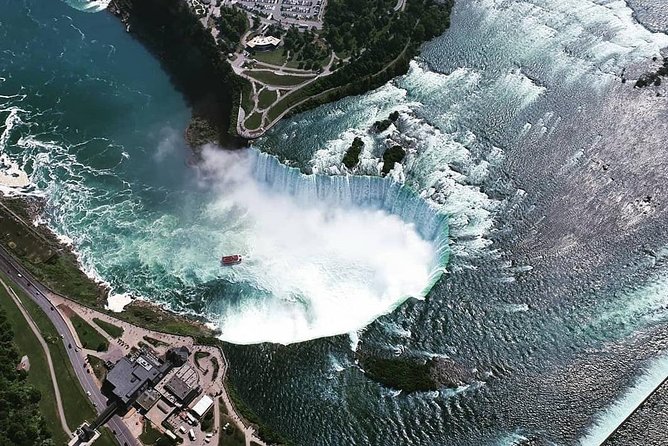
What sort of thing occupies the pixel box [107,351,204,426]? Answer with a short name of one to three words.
building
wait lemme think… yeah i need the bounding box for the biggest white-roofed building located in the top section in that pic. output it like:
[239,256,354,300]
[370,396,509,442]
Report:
[247,36,281,50]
